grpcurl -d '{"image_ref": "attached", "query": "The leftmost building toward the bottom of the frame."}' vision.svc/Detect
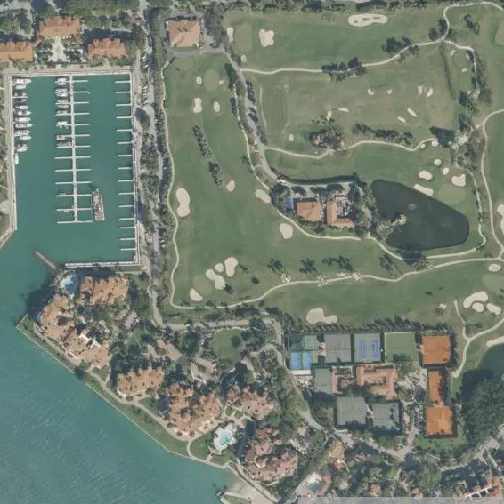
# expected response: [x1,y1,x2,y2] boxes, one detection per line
[37,290,76,343]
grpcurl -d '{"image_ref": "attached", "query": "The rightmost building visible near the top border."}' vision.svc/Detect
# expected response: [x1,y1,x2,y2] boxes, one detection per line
[167,19,201,46]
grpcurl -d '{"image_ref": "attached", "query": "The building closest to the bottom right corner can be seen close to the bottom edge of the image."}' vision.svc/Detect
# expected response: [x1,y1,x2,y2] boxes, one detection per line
[454,471,504,504]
